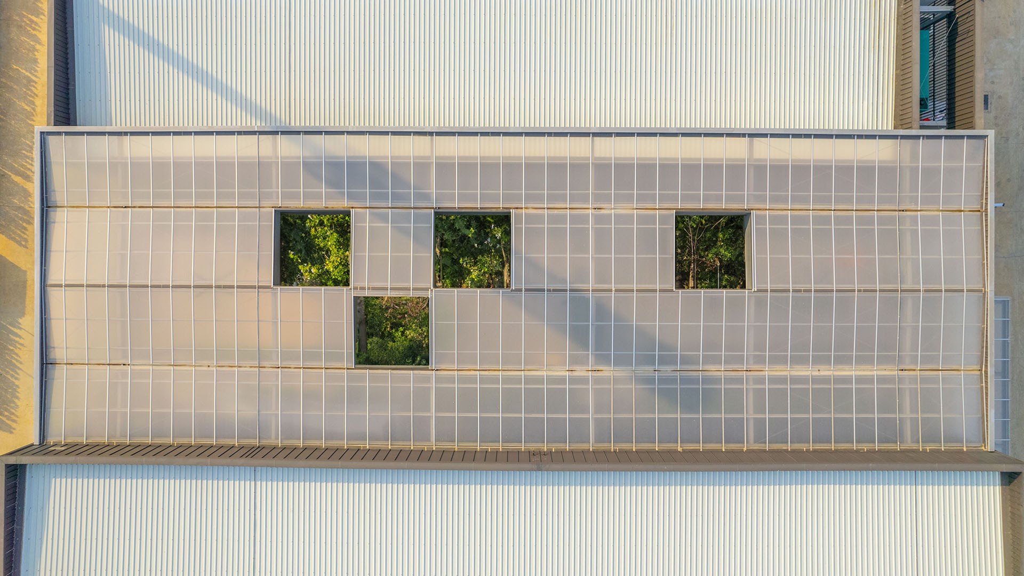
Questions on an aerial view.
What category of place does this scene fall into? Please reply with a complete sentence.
This looks like an industrial area.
